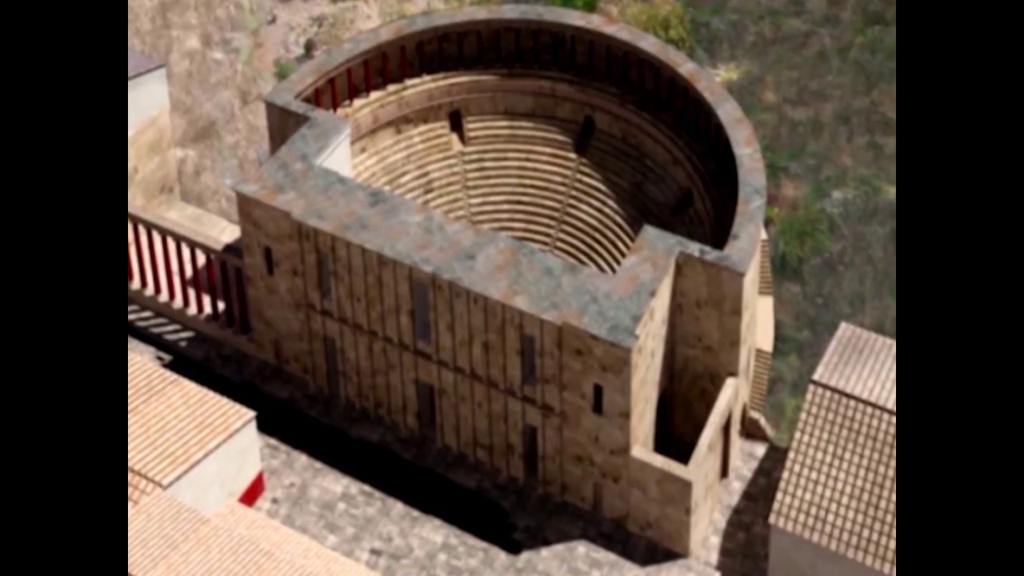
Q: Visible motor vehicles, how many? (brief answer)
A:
0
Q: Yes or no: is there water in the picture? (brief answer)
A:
No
